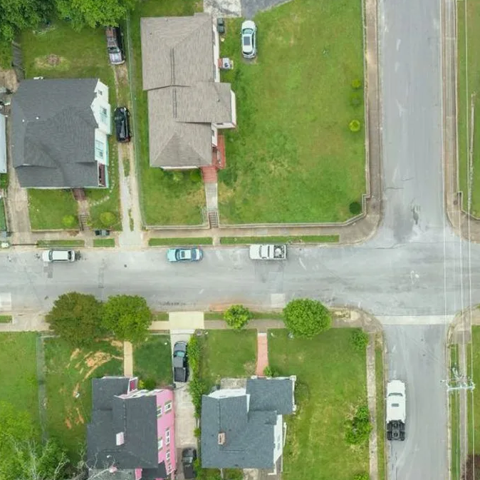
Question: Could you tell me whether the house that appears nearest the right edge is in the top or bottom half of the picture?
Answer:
bottom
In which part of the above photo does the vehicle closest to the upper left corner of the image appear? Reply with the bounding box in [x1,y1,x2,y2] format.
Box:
[105,25,126,67]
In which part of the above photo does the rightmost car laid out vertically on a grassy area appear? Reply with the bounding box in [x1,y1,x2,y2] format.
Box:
[238,19,256,58]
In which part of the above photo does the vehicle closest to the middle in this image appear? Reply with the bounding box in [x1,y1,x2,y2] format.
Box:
[249,243,288,261]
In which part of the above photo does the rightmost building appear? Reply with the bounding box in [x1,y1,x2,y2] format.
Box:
[202,376,295,473]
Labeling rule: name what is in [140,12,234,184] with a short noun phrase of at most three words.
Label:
house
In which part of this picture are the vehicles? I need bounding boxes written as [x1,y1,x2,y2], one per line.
[105,25,126,67]
[43,247,80,264]
[170,340,189,383]
[180,445,197,480]
[112,106,131,145]
[167,246,204,263]
[238,19,256,58]
[249,243,288,261]
[384,378,408,441]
